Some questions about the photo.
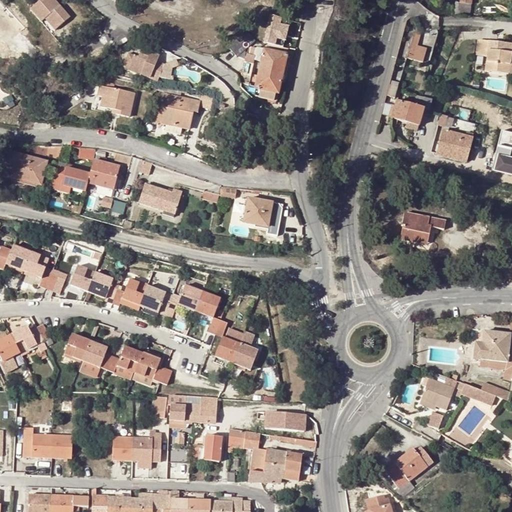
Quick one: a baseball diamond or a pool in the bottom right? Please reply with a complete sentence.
It is a pool that can be seen in the bottom right.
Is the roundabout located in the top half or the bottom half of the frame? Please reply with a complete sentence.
The bottom half of the photo is where the roundabout is.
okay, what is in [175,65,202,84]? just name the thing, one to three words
swimming pool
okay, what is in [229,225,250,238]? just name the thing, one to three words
swimming pool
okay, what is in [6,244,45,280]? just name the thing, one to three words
house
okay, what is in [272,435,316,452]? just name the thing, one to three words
building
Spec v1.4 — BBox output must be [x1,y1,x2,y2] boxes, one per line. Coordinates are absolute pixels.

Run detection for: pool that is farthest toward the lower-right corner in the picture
[458,404,487,436]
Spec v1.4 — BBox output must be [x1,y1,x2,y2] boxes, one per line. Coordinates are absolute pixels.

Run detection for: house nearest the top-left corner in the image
[30,0,70,28]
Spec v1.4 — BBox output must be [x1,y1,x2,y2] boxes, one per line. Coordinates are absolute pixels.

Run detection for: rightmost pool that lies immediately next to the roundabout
[427,345,462,366]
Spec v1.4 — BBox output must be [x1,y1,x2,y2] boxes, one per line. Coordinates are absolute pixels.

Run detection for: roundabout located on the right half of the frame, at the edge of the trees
[326,302,411,386]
